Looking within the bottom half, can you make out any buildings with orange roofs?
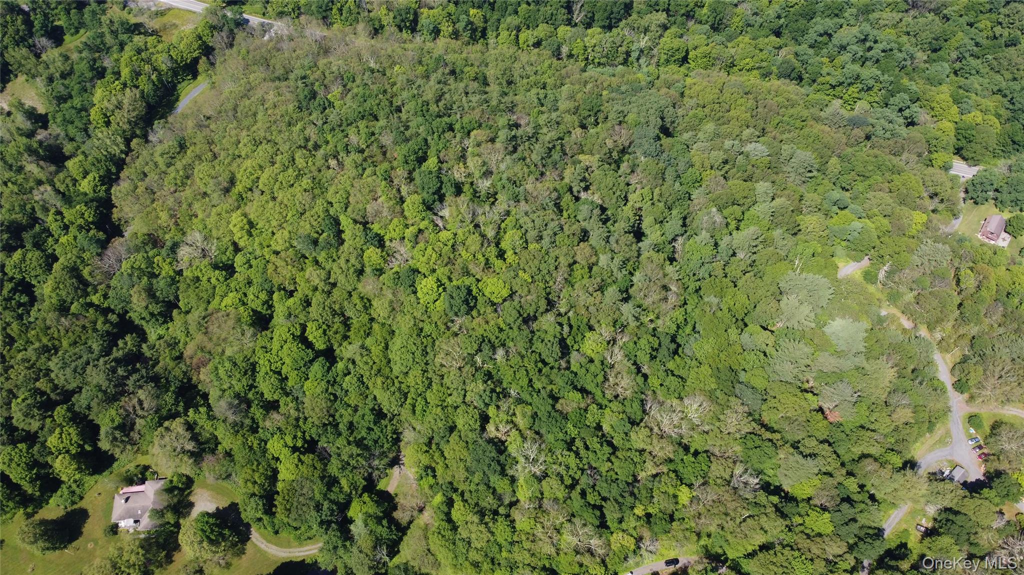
No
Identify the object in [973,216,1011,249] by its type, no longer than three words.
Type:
house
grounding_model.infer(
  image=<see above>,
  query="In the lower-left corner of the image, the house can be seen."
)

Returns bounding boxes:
[106,472,171,533]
